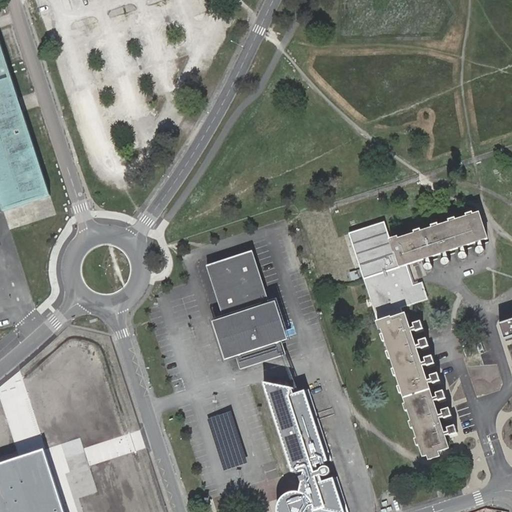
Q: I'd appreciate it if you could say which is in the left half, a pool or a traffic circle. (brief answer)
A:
traffic circle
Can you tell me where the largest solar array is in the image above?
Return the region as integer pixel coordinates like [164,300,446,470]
[208,411,247,470]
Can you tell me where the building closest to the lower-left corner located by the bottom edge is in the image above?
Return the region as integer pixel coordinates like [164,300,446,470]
[0,448,65,512]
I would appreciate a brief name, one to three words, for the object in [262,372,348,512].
building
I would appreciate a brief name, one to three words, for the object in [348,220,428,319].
building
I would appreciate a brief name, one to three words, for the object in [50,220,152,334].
roundabout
